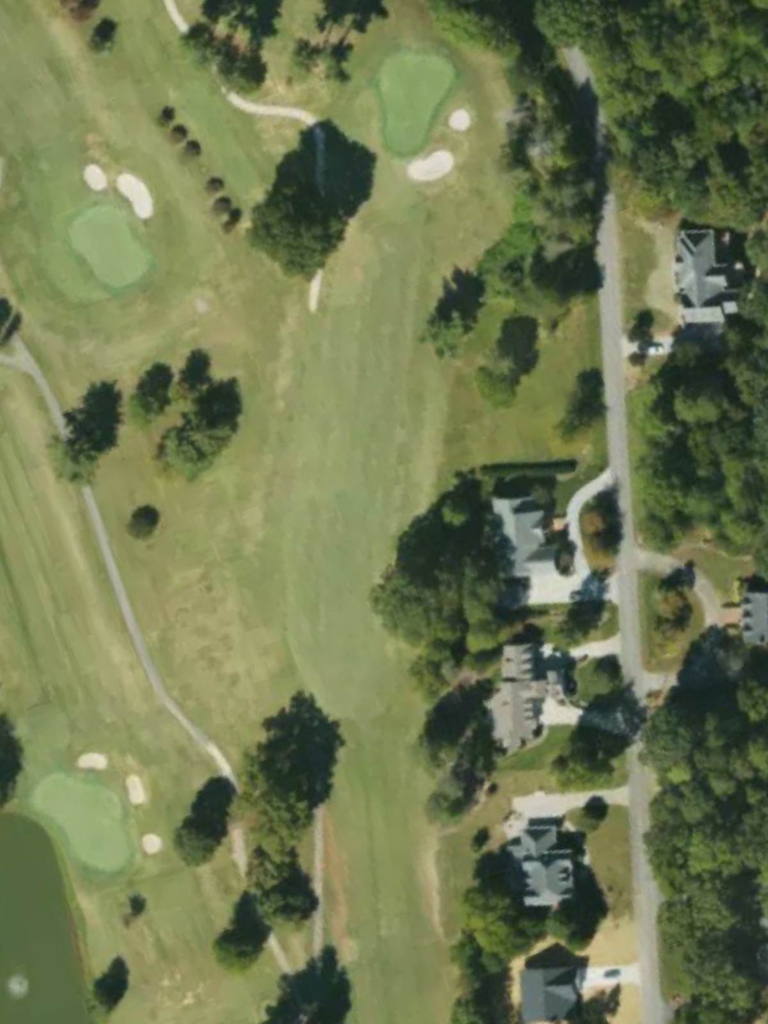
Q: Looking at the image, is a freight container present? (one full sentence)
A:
No, the picture doesn't show any freight container.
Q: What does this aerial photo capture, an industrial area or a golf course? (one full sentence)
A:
What you see here is a golf course.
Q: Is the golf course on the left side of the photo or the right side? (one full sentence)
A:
You can find the golf course on the left side of the picture.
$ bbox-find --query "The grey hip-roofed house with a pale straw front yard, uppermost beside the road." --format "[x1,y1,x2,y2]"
[674,229,730,323]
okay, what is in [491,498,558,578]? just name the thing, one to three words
house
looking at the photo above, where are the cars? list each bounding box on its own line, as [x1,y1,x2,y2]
[648,345,664,352]
[605,970,620,977]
